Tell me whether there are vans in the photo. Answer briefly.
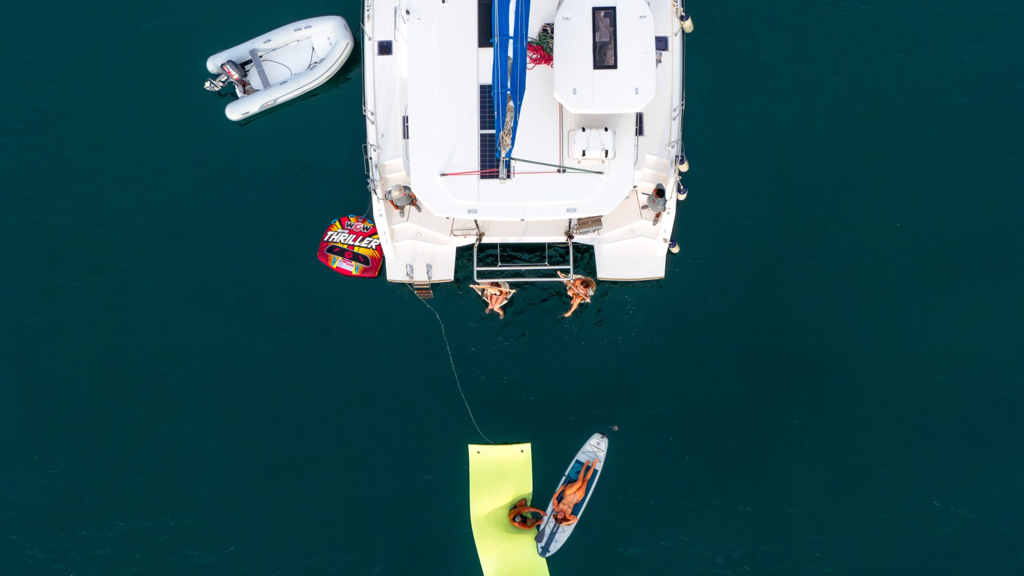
No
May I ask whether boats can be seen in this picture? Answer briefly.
Yes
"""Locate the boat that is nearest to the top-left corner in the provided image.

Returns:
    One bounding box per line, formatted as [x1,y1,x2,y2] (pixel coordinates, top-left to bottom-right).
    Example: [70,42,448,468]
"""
[201,13,355,121]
